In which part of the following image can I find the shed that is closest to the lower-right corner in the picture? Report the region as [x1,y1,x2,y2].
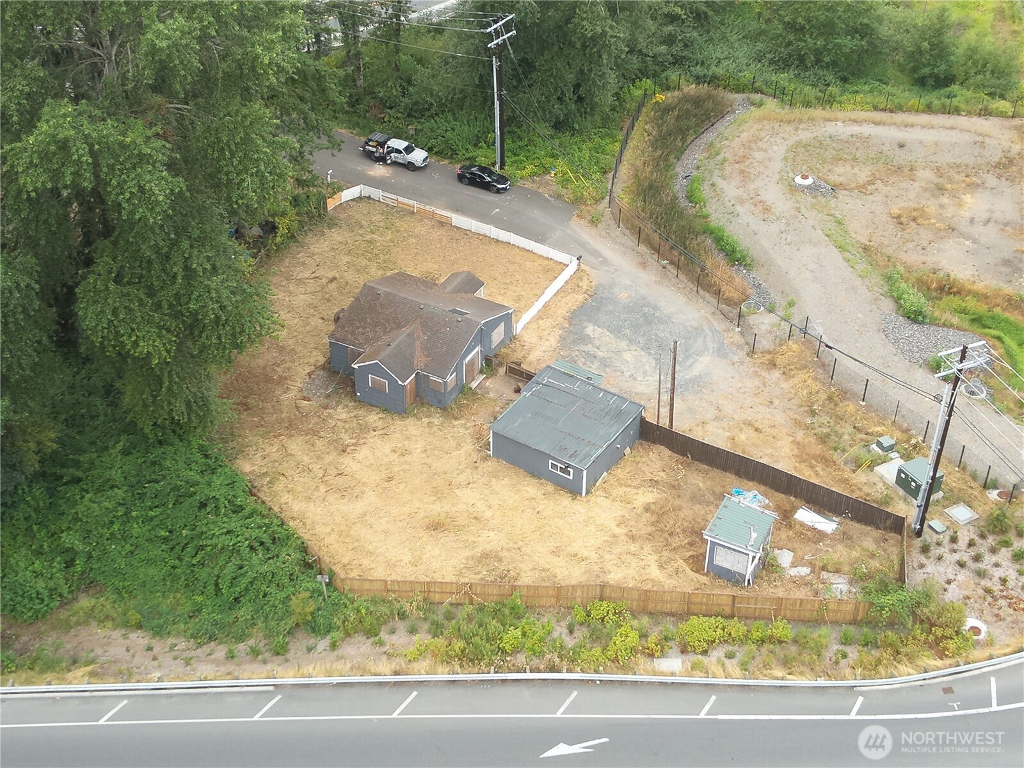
[699,498,788,587]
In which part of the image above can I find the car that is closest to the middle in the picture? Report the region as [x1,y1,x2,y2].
[456,163,515,193]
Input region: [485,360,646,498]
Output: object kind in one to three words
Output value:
building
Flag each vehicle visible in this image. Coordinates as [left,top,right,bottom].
[456,163,515,193]
[359,136,435,171]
